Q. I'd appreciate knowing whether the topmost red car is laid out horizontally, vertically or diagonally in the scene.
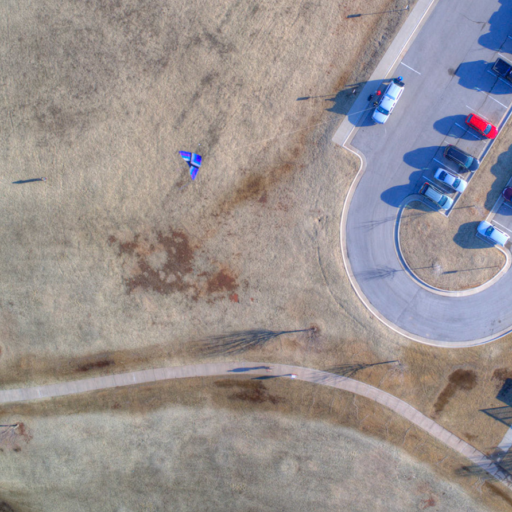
diagonally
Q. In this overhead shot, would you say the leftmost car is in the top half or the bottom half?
top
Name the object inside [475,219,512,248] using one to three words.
car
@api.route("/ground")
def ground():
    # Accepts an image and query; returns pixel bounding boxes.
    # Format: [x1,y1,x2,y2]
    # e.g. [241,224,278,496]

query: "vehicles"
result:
[431,166,467,194]
[475,219,512,248]
[502,187,512,204]
[489,56,512,83]
[464,112,498,141]
[373,77,406,122]
[442,143,480,173]
[417,183,453,211]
